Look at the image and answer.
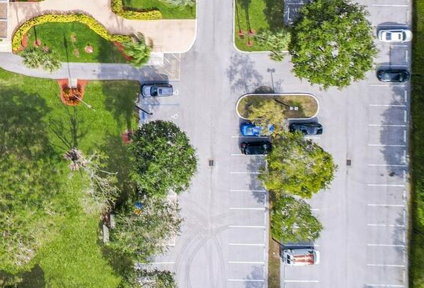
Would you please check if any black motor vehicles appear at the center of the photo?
Yes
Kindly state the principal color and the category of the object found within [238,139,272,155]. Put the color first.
black car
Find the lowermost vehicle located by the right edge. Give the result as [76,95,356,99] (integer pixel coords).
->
[375,68,410,83]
